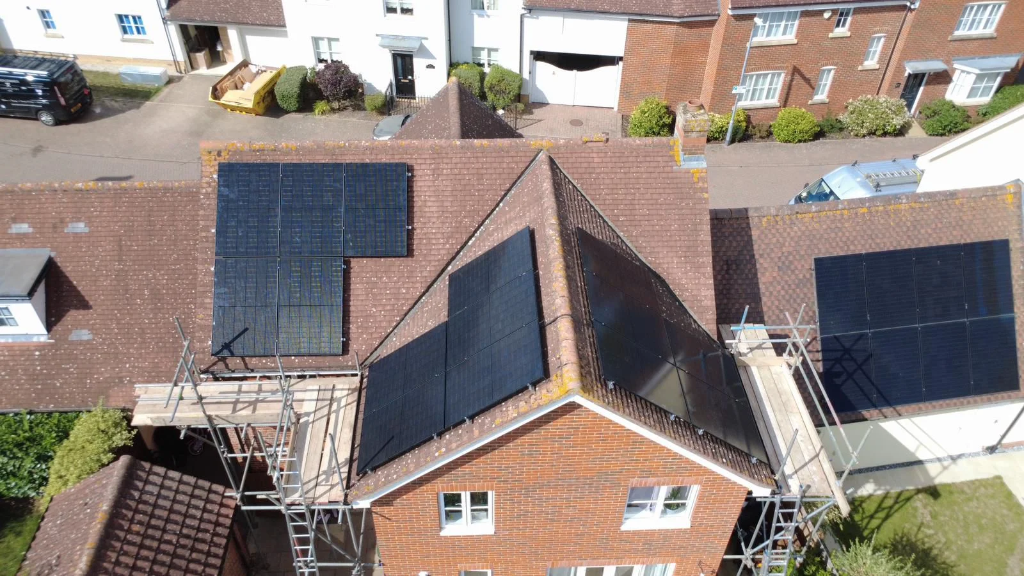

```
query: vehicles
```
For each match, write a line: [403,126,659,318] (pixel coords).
[0,53,89,126]
[785,153,940,201]
[369,100,425,140]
